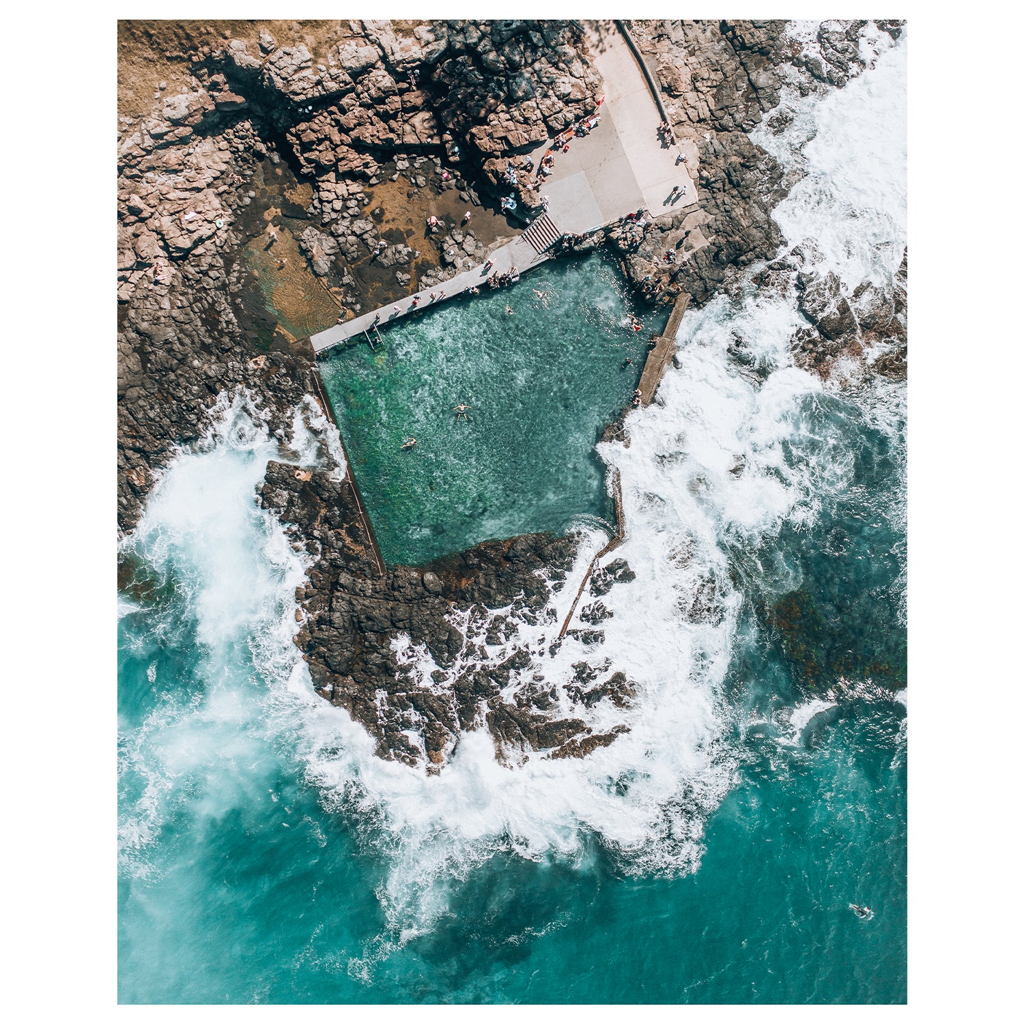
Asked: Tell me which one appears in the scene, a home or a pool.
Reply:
pool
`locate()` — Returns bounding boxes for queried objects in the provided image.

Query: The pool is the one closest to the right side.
[320,246,672,569]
